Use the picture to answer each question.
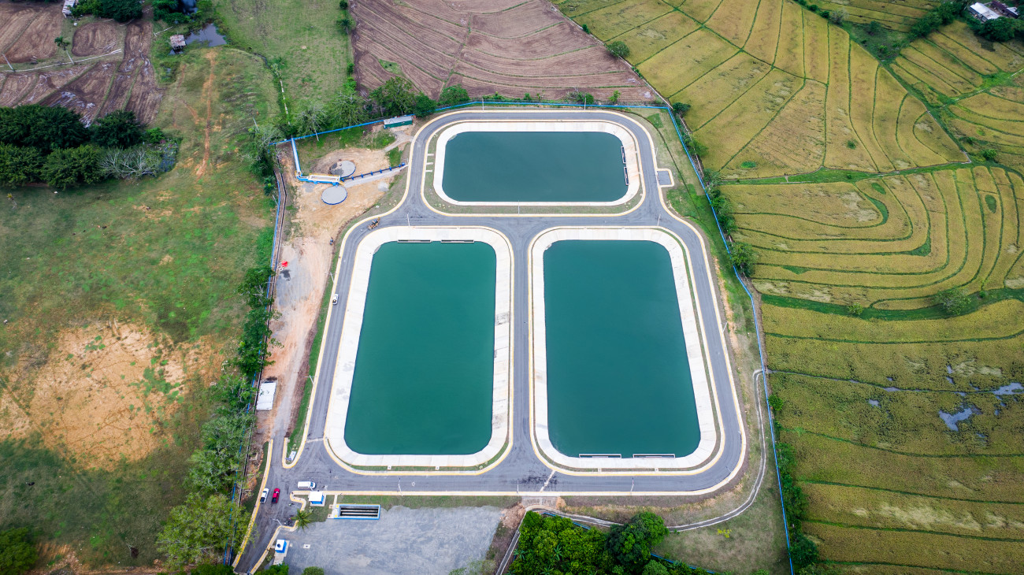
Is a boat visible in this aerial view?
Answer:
No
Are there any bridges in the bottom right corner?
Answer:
No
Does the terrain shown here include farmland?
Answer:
Yes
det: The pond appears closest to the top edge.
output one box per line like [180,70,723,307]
[433,122,639,206]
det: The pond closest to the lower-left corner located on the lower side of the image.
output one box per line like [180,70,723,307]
[328,228,510,467]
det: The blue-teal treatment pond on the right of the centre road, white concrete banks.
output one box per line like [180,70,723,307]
[532,228,717,468]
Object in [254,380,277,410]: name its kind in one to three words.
building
